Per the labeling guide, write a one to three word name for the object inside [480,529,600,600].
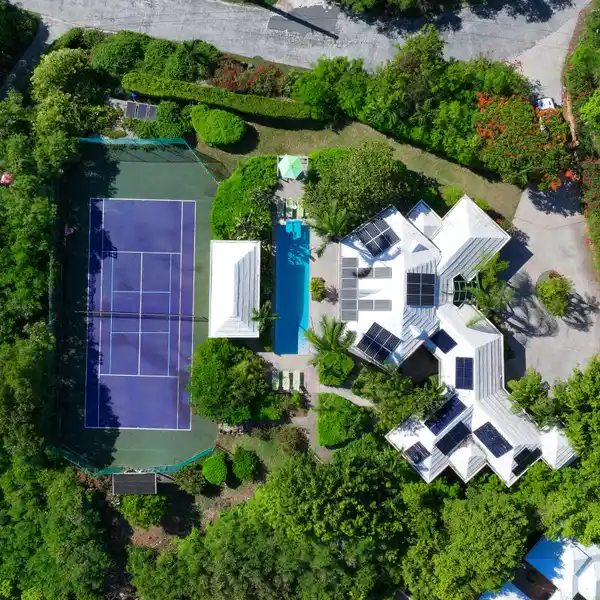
house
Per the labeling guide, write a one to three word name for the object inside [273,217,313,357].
swimming pool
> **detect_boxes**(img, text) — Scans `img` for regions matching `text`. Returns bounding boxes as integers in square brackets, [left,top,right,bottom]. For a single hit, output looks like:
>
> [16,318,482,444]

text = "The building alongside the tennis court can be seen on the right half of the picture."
[340,195,571,486]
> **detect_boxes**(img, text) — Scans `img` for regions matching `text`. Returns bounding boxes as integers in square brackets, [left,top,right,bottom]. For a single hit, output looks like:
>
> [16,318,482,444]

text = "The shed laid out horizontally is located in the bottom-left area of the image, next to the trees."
[112,472,159,495]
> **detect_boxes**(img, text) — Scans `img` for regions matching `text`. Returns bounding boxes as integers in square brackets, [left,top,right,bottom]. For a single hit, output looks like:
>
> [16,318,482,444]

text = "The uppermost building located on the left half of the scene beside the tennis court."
[209,240,261,338]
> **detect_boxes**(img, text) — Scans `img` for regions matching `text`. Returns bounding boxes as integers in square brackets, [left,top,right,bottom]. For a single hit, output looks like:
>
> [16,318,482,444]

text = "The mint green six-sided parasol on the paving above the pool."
[279,153,305,181]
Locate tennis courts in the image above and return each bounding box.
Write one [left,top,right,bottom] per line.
[62,147,220,466]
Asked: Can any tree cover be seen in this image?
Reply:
Yes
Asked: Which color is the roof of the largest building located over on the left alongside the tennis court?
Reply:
white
